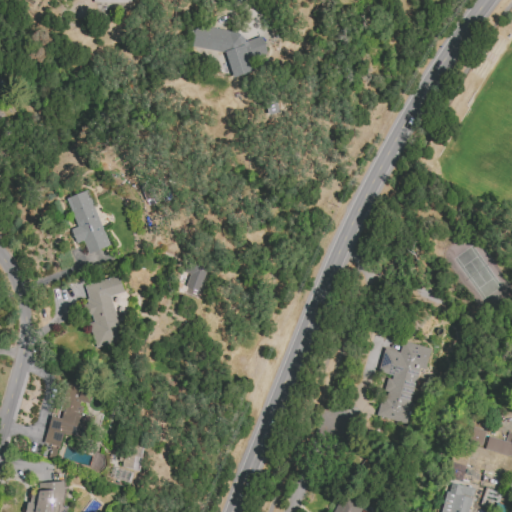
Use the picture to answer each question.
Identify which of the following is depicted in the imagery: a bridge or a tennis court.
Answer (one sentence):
Looking from above, you can make out a tennis court.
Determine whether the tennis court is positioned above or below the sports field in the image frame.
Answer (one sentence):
The tennis court is found below the sports field in the photo.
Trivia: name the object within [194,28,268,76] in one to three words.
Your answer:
house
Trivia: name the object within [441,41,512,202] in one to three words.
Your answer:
sports field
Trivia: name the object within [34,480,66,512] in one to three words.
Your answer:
house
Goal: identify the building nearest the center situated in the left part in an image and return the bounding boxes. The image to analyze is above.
[187,266,207,296]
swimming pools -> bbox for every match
[64,447,92,466]
[84,499,102,512]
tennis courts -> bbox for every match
[442,244,505,306]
